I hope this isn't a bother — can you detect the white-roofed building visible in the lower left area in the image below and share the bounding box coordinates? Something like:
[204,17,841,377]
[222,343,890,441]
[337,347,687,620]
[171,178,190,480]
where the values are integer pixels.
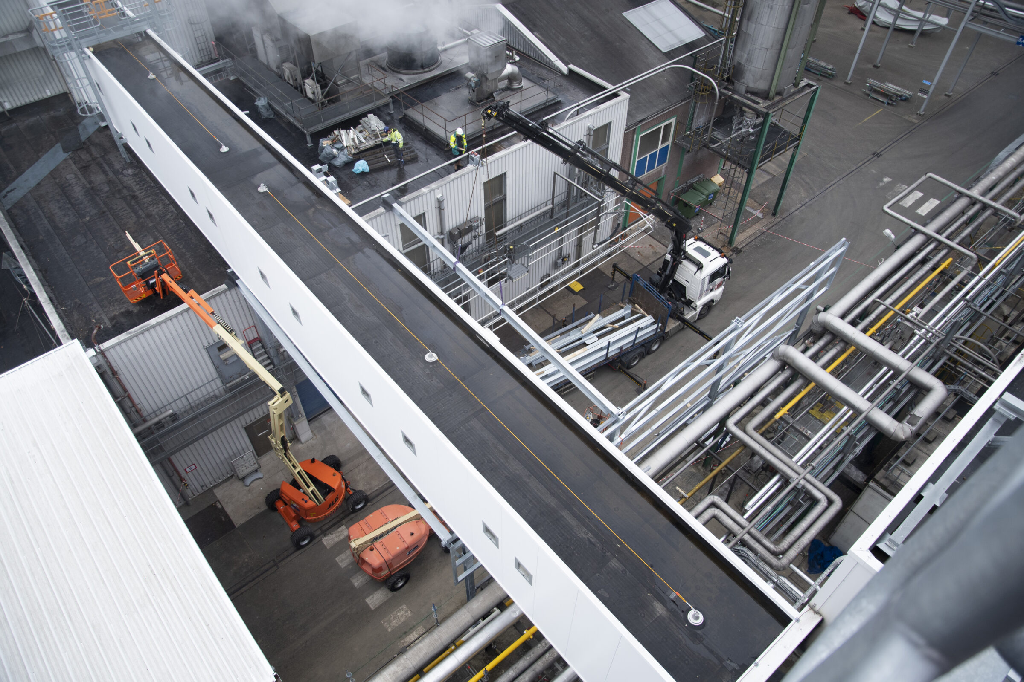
[0,338,290,682]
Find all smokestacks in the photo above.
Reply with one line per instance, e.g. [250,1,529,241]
[375,2,445,77]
